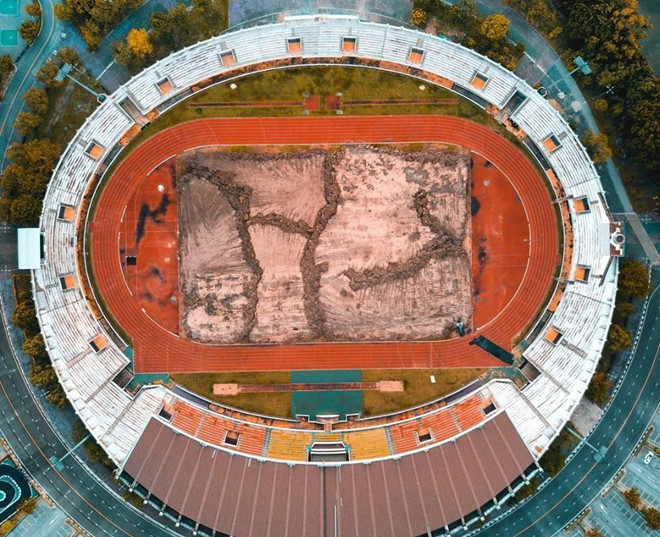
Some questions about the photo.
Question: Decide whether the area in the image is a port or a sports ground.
sports ground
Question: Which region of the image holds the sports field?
center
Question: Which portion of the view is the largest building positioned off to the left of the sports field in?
left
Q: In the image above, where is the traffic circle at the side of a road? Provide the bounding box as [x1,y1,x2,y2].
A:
[0,454,37,524]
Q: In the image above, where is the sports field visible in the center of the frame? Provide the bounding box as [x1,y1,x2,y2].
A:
[179,148,471,342]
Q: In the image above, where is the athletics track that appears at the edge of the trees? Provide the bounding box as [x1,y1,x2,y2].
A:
[90,117,560,373]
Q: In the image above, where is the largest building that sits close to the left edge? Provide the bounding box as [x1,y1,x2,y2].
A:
[18,228,48,269]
